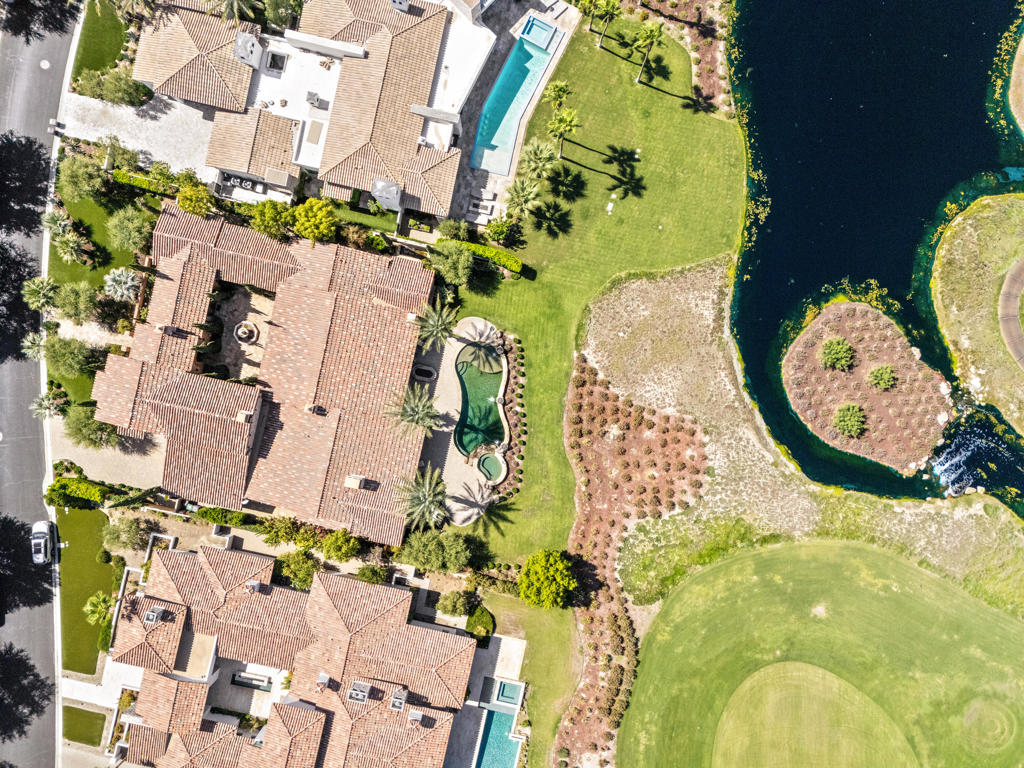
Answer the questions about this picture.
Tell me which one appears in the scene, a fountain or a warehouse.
fountain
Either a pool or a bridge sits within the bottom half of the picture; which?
pool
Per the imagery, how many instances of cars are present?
1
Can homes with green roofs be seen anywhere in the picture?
No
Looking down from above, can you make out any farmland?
No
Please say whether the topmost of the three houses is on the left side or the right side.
left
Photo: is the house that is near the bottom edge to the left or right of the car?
on its right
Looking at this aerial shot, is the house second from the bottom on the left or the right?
left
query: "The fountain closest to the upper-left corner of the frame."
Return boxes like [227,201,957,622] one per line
[233,319,261,346]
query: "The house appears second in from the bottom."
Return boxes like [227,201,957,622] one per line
[91,205,436,547]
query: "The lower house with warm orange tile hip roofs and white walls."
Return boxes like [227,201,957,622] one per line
[112,543,476,768]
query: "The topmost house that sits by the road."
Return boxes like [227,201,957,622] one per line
[133,0,508,218]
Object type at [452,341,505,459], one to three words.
swimming pool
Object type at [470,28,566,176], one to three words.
swimming pool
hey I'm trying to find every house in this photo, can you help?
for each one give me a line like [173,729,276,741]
[91,205,436,547]
[133,0,508,218]
[112,543,476,768]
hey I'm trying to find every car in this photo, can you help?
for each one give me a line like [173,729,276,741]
[28,520,55,565]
